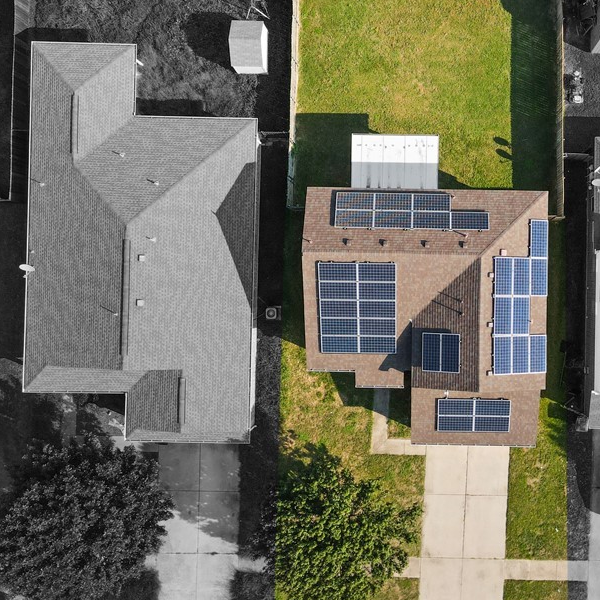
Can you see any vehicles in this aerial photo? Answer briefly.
No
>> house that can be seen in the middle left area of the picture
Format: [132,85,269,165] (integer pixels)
[22,40,263,443]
